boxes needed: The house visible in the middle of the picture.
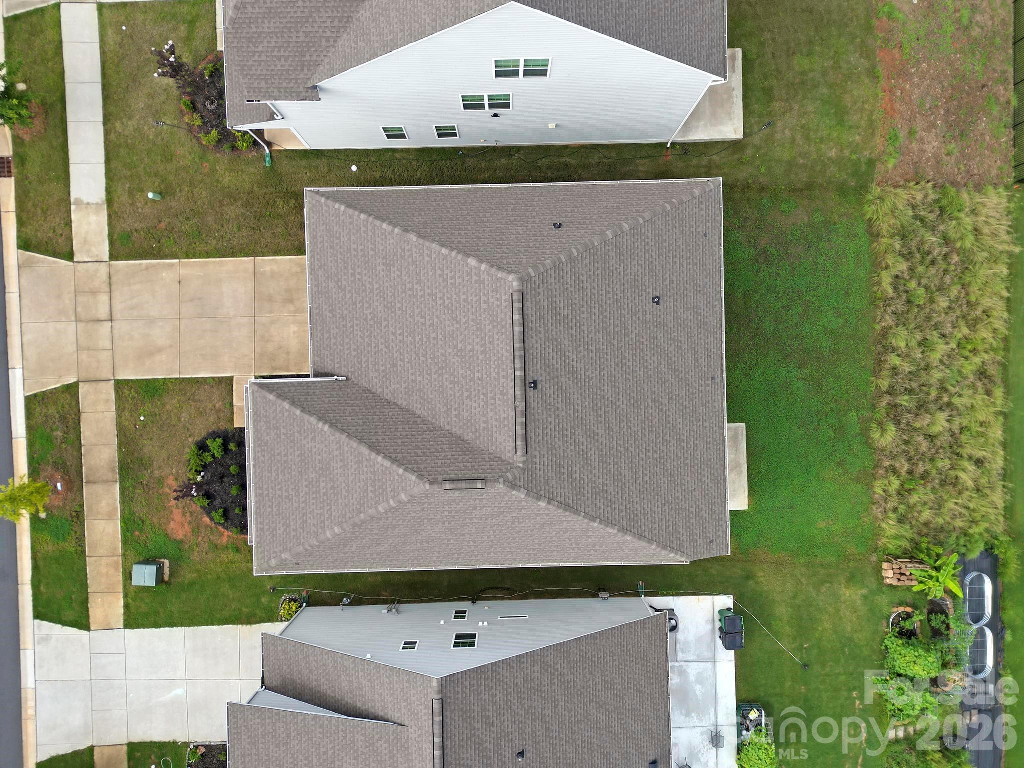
[242,175,734,578]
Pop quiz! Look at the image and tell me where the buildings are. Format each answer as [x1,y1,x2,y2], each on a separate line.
[216,0,730,157]
[242,175,734,578]
[225,591,672,768]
